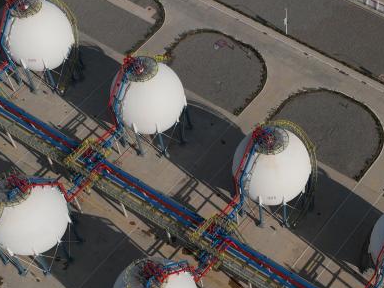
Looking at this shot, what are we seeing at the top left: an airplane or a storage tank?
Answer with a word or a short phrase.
storage tank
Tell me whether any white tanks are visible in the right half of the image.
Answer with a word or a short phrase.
Yes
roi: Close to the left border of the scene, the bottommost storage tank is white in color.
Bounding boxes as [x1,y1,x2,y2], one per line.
[0,171,89,275]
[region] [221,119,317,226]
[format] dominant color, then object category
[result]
white storage tank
